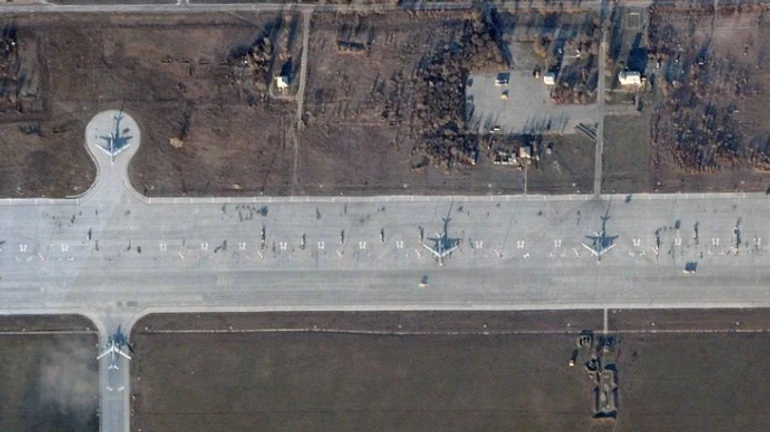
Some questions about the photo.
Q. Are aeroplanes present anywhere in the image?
Yes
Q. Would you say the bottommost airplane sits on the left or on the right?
left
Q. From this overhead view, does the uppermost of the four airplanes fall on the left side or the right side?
left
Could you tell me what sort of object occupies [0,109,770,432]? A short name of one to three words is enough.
airport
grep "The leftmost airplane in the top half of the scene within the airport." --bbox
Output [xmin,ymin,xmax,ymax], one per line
[95,134,129,165]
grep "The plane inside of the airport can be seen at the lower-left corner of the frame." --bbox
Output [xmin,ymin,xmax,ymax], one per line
[95,340,130,372]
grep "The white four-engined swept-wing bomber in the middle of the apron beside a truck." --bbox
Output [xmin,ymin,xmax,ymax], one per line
[422,233,457,266]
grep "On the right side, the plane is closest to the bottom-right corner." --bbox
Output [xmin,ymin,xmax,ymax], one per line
[581,230,616,264]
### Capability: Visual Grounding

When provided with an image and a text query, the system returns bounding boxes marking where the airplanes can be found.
[95,134,129,165]
[422,233,457,266]
[581,230,616,264]
[95,340,130,372]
